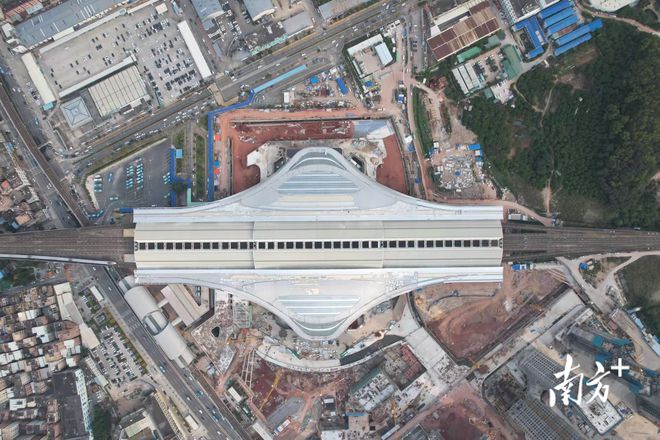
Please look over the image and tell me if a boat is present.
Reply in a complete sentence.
No, the scene contains no boat.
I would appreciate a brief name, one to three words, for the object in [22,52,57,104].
shed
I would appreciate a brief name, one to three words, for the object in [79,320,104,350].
building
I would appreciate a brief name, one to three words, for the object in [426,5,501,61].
building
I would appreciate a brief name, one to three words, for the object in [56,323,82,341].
house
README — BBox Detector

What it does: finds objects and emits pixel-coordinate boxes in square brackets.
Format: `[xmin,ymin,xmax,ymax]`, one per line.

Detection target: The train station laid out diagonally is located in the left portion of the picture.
[119,274,195,368]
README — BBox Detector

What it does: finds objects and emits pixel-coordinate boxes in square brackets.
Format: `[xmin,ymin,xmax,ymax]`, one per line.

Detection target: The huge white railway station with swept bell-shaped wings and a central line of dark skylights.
[135,148,503,340]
